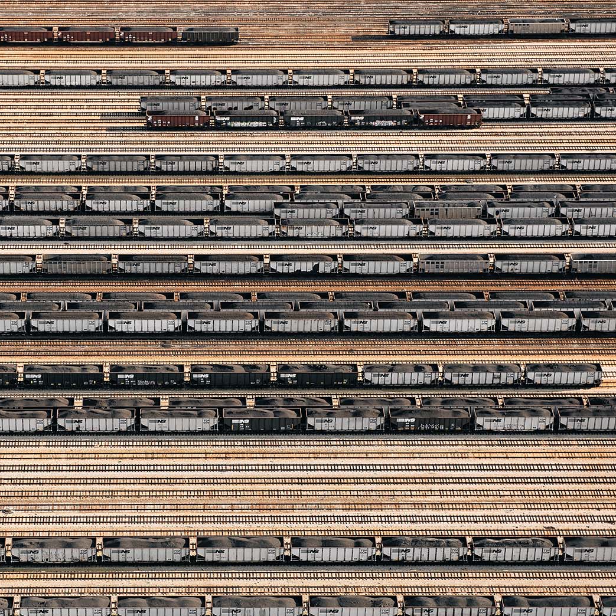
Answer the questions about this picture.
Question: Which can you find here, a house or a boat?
boat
